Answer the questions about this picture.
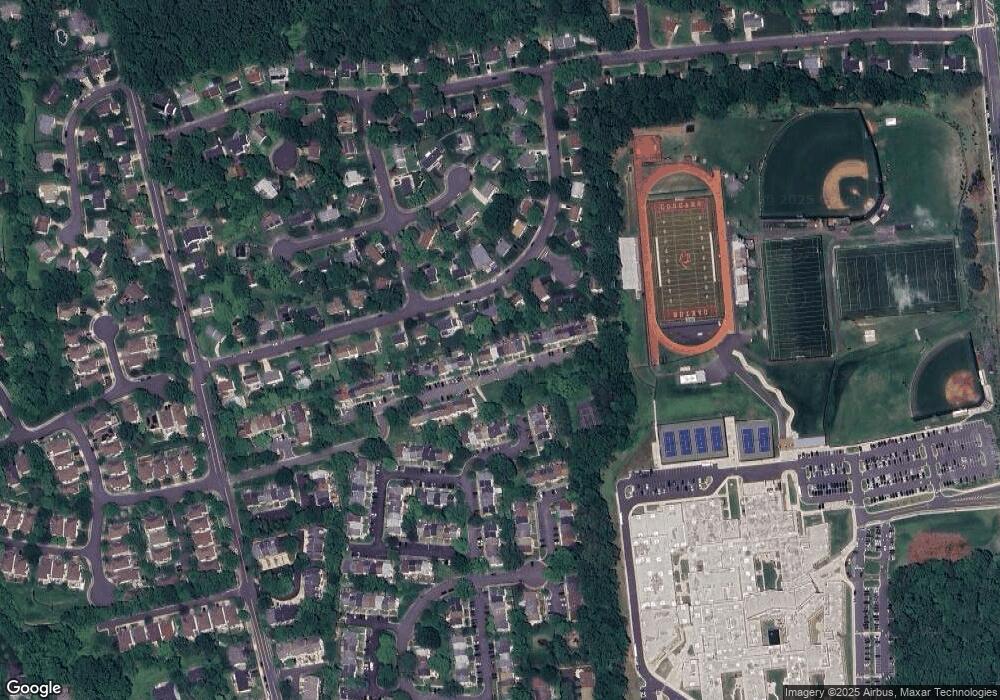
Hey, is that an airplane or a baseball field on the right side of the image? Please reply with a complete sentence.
It is a baseball field that can be seen on the right side of the image.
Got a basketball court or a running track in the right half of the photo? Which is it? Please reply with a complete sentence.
What appears in the right half of the photo is a running track.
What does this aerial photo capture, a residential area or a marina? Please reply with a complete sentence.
This image shows a residential area.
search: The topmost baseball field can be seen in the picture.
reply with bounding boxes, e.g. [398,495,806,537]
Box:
[761,108,882,217]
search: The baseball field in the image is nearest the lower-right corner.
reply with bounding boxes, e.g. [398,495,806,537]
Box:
[911,332,983,417]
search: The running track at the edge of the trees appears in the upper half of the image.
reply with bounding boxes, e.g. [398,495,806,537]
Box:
[634,136,733,371]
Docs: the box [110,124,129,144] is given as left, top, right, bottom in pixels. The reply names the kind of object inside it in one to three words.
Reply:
house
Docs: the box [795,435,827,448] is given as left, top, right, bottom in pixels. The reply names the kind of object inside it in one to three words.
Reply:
building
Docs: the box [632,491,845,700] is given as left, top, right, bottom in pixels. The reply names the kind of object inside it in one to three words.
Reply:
building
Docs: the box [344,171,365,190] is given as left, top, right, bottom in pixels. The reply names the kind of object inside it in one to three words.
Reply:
house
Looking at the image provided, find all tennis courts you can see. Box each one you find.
[663,432,677,457]
[694,428,707,453]
[679,430,692,455]
[757,427,771,452]
[741,429,755,453]
[710,426,723,451]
